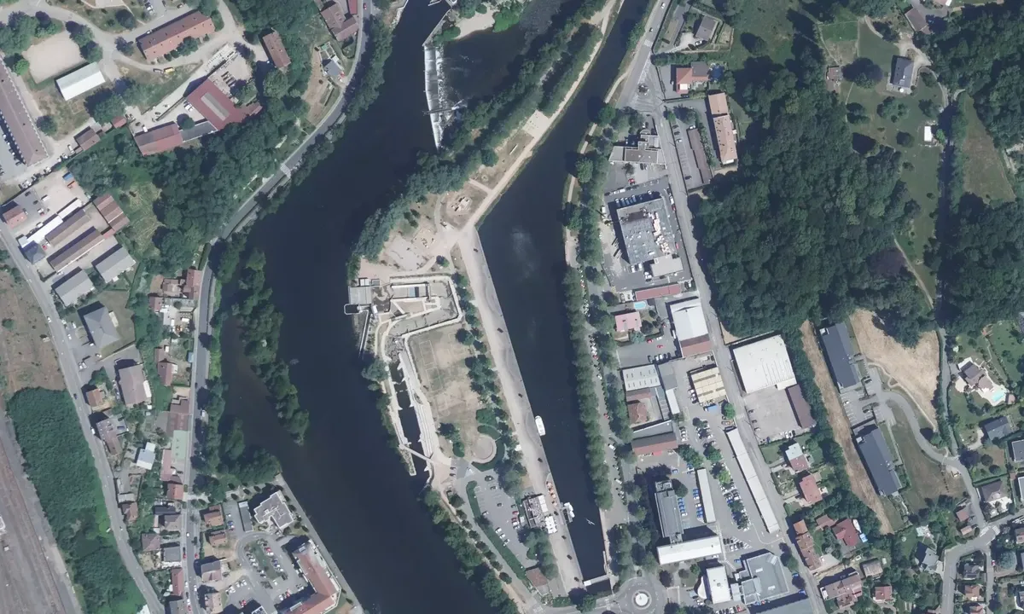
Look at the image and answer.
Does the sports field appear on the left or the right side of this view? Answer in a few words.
left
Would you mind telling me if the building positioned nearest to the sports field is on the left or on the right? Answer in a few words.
left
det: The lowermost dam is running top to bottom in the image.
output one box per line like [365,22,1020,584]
[423,45,459,148]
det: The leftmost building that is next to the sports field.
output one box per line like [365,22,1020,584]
[0,59,47,166]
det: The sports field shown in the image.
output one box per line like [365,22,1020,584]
[22,31,87,84]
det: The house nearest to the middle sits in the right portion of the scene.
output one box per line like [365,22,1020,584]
[615,311,642,331]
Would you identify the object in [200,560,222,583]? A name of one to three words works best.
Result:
house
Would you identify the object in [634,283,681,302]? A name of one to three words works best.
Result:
shed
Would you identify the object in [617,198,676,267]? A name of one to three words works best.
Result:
building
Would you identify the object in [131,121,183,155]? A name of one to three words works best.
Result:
house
